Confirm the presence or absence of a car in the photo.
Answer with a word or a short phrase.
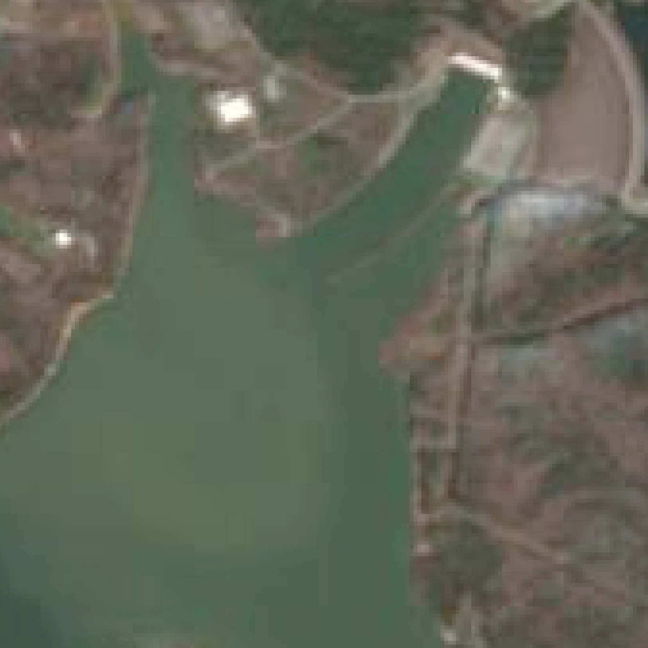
No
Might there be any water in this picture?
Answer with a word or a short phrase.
Yes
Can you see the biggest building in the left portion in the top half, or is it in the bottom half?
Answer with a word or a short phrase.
top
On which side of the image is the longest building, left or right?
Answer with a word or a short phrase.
right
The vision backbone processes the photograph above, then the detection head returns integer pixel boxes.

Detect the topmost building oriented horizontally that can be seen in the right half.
[449,52,501,75]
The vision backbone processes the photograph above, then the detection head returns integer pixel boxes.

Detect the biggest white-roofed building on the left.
[217,96,250,120]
